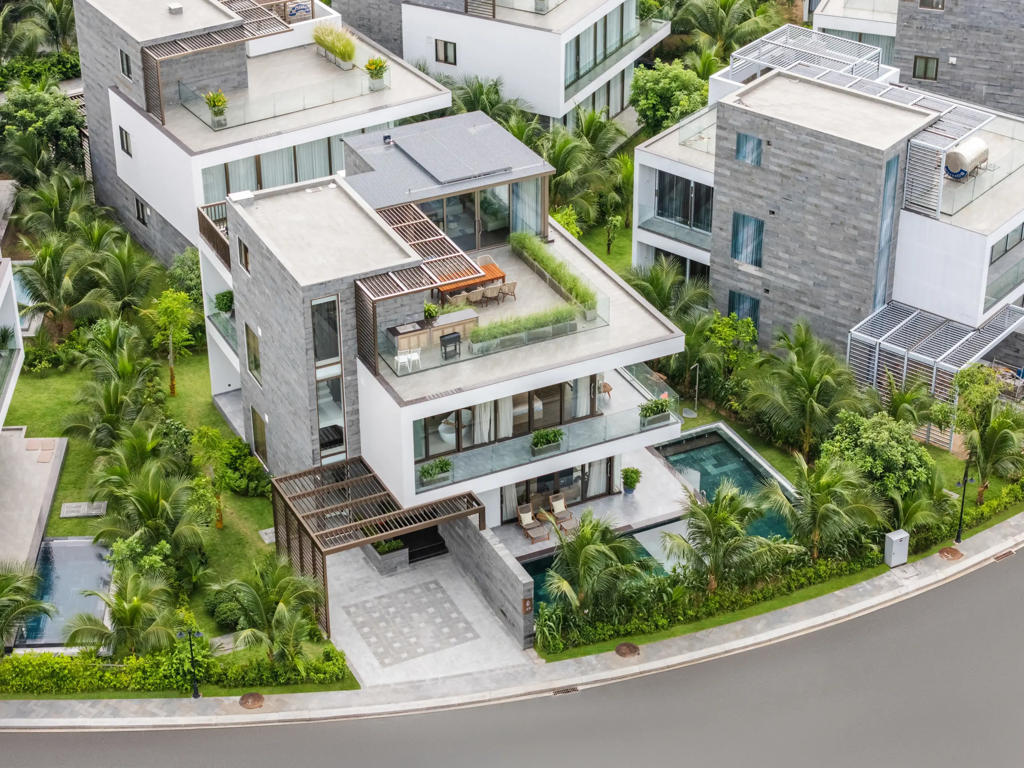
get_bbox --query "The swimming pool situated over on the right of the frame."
[521,424,833,625]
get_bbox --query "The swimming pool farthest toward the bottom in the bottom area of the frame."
[1,533,133,670]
